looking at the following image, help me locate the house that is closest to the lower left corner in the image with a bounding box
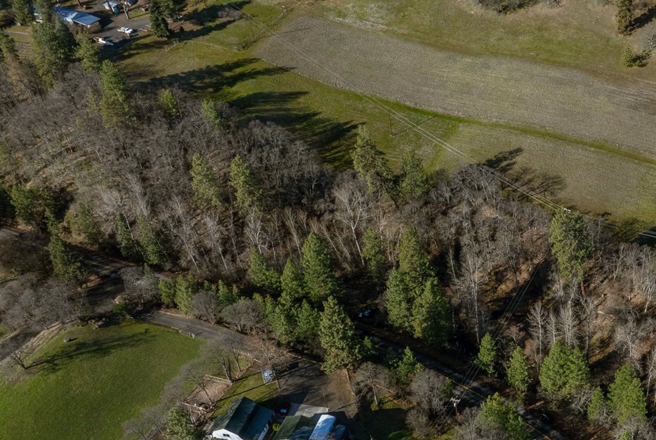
[208,390,276,440]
